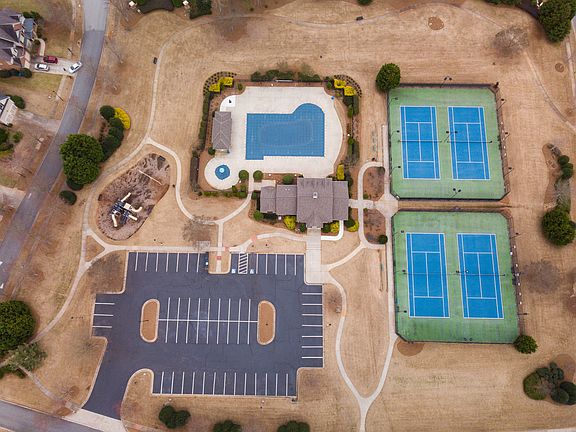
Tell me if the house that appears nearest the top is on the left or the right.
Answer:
left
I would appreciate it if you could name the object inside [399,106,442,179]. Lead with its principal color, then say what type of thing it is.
blue tennis court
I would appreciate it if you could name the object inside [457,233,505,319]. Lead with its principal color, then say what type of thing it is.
blue tennis court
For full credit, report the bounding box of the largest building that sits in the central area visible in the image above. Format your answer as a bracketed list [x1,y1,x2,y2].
[259,178,349,228]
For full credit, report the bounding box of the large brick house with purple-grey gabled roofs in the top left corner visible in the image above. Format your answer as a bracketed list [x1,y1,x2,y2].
[0,2,38,69]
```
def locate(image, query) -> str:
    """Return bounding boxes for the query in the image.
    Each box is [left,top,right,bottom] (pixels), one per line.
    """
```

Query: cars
[67,61,83,73]
[43,55,58,63]
[34,63,49,70]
